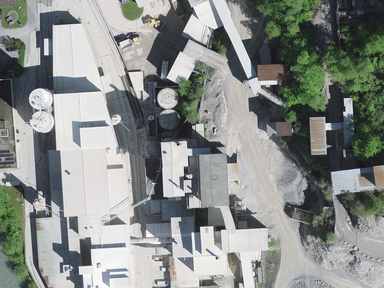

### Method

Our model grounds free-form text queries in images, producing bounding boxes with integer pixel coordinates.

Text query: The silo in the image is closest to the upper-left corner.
[29,88,53,112]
